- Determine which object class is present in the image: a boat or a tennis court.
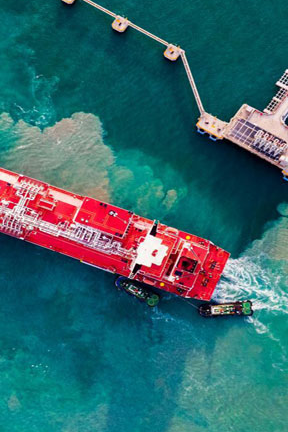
boat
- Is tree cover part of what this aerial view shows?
No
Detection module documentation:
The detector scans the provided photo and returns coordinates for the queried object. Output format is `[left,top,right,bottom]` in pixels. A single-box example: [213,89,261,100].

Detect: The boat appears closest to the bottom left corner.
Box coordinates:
[115,278,157,307]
